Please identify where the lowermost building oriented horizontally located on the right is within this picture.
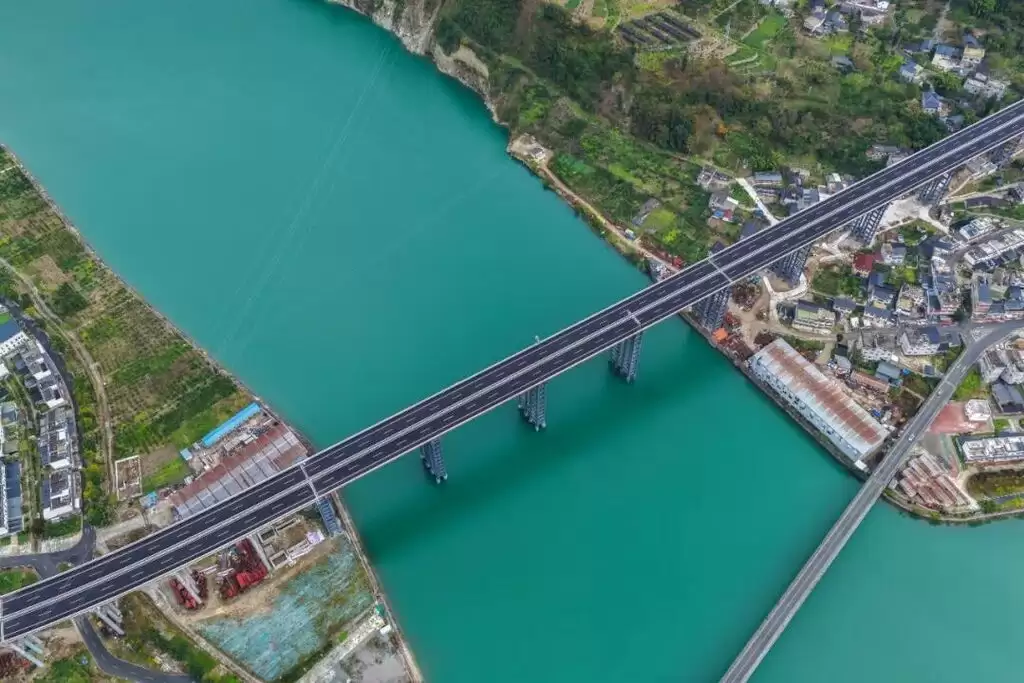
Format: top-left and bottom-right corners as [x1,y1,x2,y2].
[957,438,1024,473]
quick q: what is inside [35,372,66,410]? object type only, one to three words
house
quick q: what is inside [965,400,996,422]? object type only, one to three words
building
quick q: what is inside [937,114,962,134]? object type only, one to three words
house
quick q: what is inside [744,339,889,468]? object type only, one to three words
building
